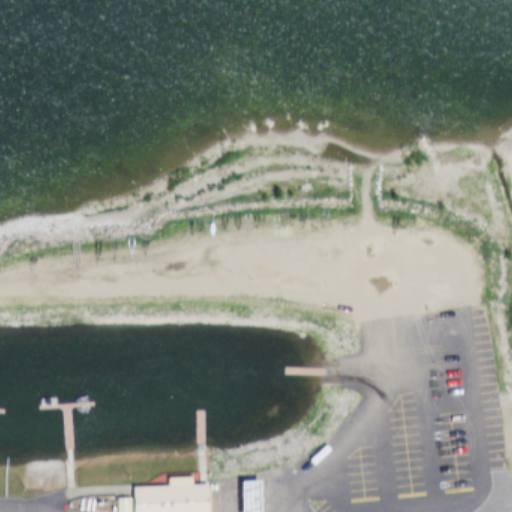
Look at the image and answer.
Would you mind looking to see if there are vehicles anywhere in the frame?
Yes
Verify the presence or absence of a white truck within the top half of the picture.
No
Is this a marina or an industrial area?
marina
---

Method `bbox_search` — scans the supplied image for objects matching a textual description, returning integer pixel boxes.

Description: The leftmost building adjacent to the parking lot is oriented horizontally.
[134,476,211,512]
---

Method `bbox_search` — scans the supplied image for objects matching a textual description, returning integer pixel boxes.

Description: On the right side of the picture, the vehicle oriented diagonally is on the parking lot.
[303,446,331,472]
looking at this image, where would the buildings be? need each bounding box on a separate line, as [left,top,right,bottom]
[243,481,264,512]
[134,476,211,512]
[119,498,132,512]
